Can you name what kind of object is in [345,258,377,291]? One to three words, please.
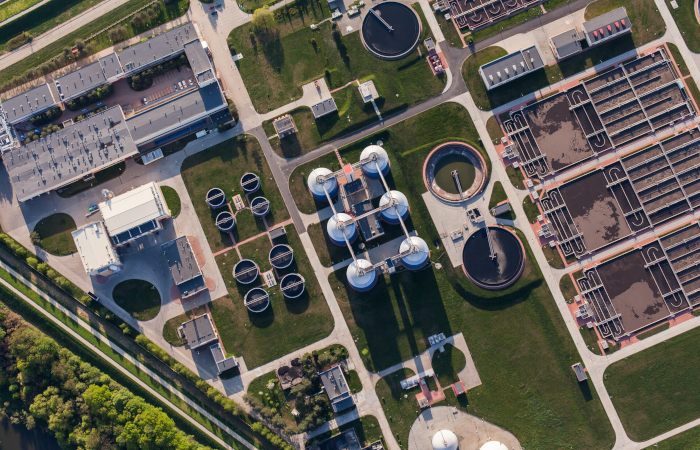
storage tank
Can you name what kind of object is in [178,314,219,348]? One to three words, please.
building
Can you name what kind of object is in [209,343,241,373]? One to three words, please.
building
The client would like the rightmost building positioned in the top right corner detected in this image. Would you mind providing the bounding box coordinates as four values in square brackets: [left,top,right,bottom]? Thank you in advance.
[580,7,632,47]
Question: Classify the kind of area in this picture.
industrial area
